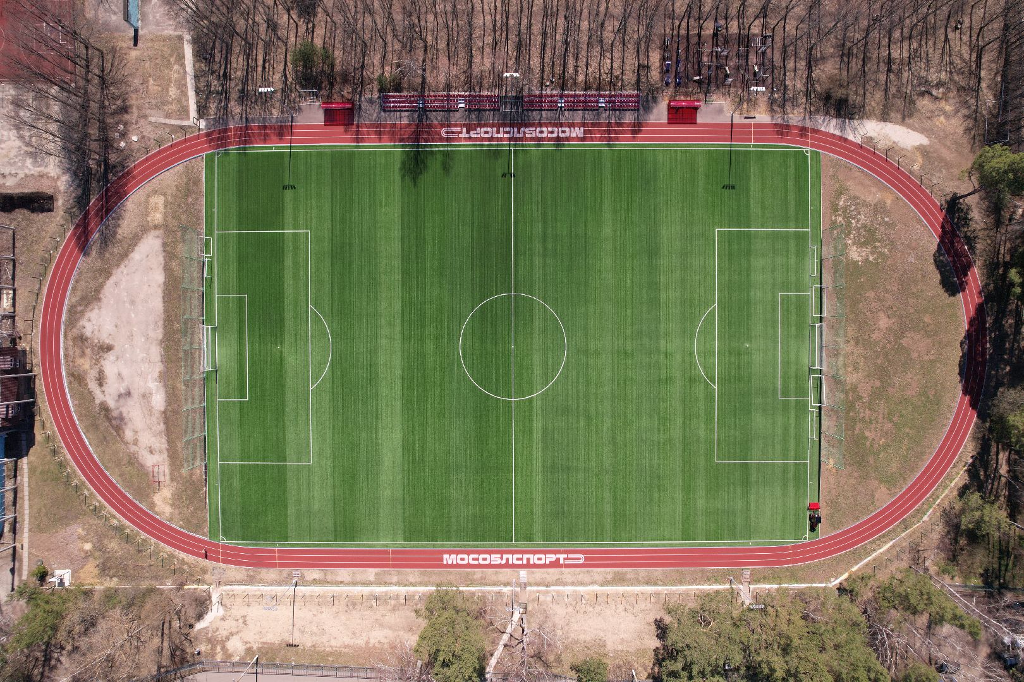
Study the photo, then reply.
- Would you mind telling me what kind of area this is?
sports ground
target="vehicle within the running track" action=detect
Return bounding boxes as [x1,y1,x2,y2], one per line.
[806,504,824,530]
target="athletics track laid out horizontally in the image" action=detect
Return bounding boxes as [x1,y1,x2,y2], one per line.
[40,122,988,569]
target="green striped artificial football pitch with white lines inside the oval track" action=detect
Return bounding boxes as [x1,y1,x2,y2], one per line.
[204,144,821,547]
